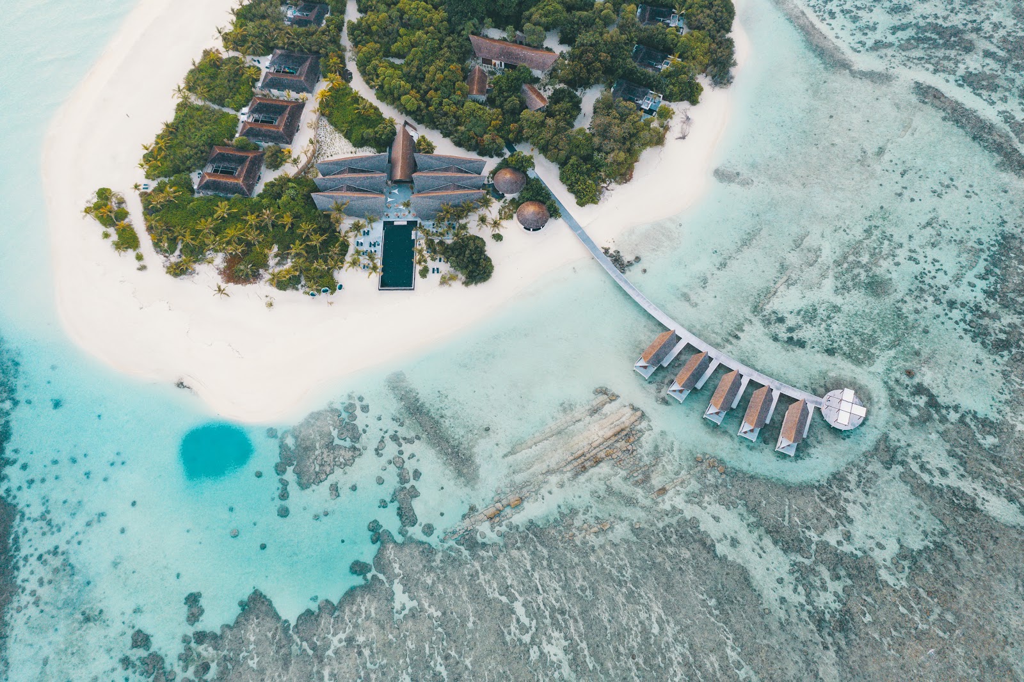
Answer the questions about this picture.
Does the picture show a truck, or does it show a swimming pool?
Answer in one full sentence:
Visible in the photo is a swimming pool.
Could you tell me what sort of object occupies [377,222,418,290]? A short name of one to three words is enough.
swimming pool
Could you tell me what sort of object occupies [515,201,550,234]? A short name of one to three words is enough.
shed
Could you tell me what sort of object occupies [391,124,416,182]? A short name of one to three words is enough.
building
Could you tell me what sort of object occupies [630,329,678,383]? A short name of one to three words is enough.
house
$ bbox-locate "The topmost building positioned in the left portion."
[289,0,329,30]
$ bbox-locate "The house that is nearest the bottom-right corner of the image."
[773,399,808,462]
